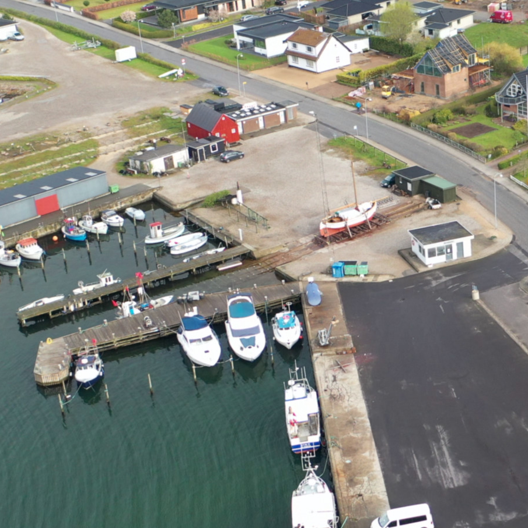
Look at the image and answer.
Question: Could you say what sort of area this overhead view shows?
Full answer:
It's a port.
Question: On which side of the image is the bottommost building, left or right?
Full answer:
The bottommost building appears in the right half of the scene.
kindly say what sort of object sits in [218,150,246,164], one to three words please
car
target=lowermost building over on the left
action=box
[0,159,97,225]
